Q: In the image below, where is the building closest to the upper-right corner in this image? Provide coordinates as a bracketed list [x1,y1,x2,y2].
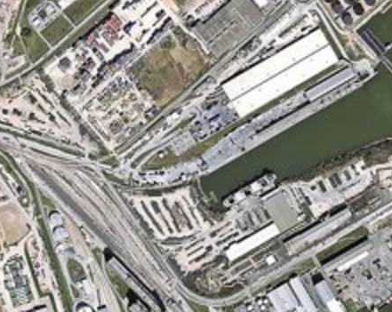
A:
[306,58,372,102]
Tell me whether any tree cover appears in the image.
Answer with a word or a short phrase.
No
